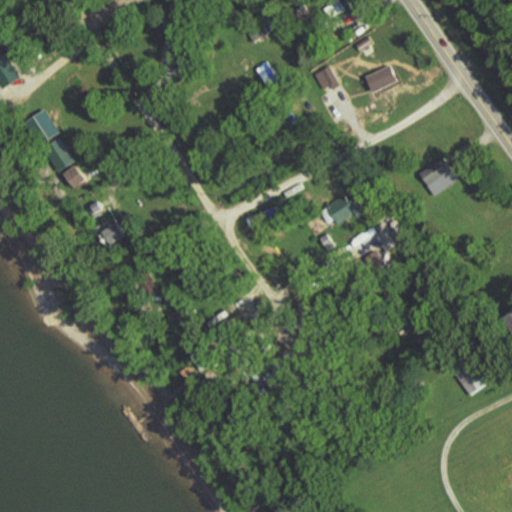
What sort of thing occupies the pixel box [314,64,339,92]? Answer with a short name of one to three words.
barn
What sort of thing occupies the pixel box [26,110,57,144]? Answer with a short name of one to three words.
house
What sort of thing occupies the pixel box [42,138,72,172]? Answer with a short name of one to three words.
house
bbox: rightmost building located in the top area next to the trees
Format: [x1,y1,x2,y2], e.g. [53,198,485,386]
[417,158,457,196]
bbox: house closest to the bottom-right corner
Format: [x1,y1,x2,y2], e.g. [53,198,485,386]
[456,367,489,400]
